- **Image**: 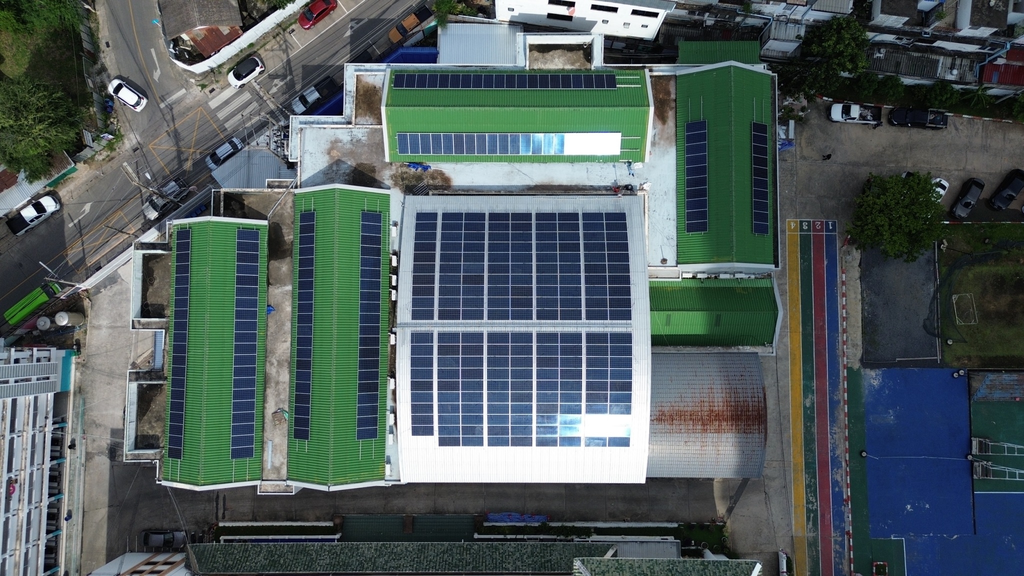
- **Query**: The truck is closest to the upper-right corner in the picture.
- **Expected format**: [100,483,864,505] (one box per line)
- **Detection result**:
[887,104,951,129]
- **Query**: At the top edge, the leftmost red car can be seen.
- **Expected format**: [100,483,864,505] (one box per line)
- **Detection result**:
[298,0,341,32]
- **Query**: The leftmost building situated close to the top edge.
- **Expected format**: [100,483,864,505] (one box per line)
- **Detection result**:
[163,0,248,64]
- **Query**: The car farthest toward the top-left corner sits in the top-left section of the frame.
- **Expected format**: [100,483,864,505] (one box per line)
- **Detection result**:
[107,80,150,113]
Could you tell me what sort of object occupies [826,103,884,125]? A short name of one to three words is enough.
truck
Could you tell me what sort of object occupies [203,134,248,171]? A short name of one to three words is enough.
car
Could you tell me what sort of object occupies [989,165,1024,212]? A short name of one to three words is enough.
car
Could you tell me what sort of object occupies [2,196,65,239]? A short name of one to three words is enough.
truck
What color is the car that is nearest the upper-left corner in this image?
white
